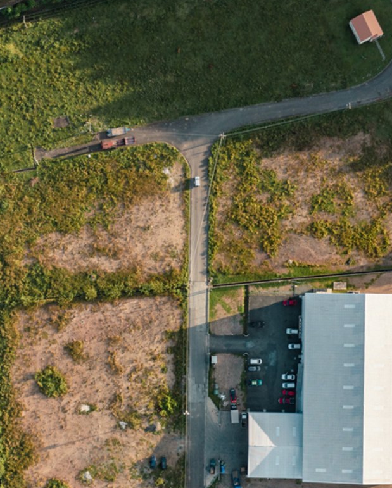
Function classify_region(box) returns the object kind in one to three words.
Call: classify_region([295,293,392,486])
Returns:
building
